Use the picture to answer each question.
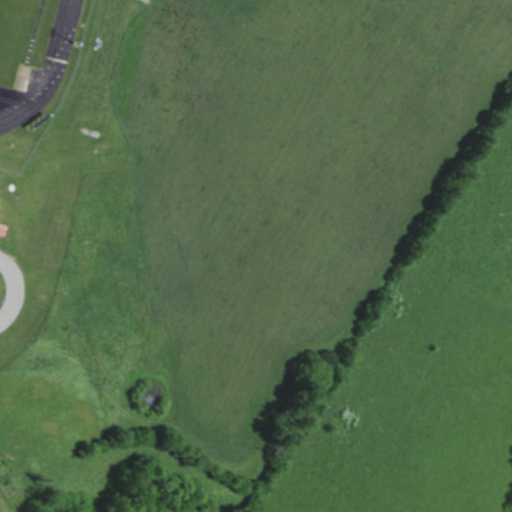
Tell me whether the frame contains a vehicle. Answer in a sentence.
No, the picture doesn't show any vehicle.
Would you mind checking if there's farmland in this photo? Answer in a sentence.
Yes, farmland can be seen from above here.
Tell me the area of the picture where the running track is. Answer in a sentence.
The running track is in the top left part of the image.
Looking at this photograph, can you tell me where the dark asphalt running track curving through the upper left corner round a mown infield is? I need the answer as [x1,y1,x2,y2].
[0,0,82,134]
